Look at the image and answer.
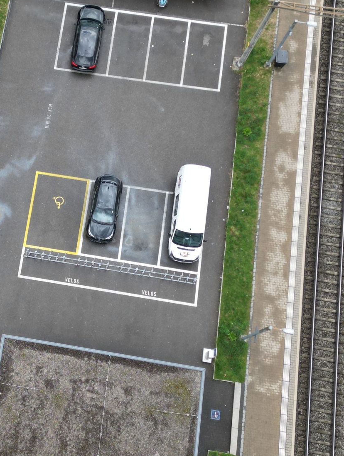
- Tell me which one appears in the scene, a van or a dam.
van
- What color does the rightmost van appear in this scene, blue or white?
white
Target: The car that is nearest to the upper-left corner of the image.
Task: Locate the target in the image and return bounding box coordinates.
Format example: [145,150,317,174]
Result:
[71,5,112,74]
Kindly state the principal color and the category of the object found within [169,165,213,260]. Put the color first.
white van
